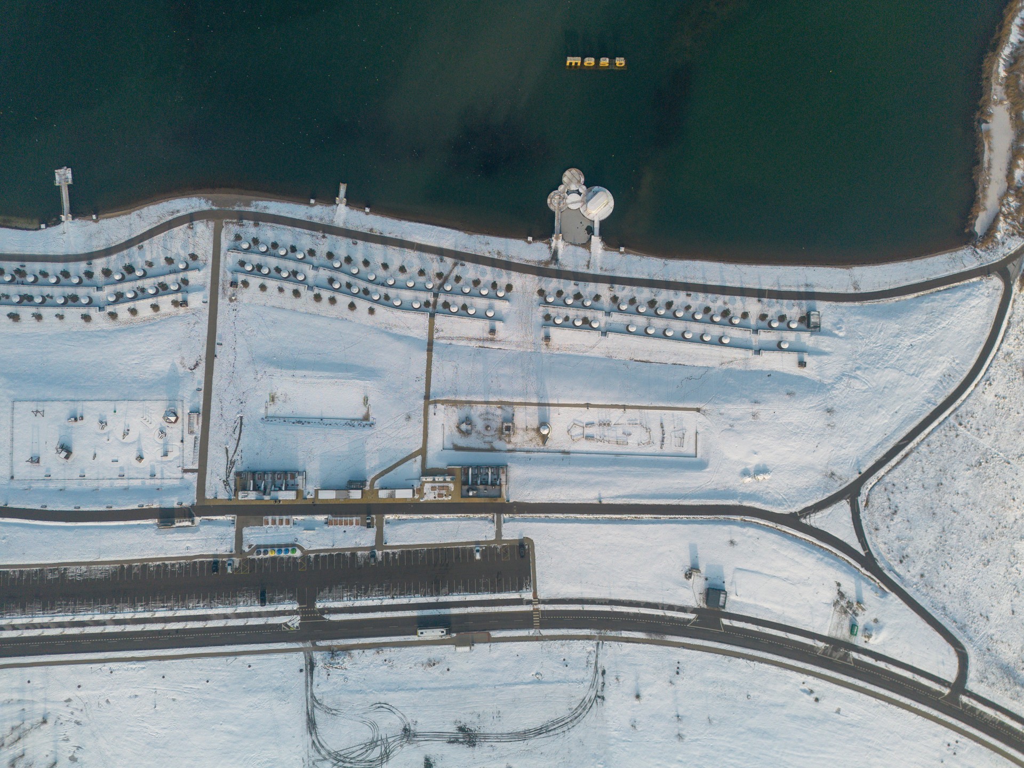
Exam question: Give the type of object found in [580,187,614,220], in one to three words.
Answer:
pier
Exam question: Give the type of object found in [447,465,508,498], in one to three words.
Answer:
building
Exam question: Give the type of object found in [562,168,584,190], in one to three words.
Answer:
pier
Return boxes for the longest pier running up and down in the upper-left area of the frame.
[53,166,73,221]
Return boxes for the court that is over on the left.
[265,396,371,422]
